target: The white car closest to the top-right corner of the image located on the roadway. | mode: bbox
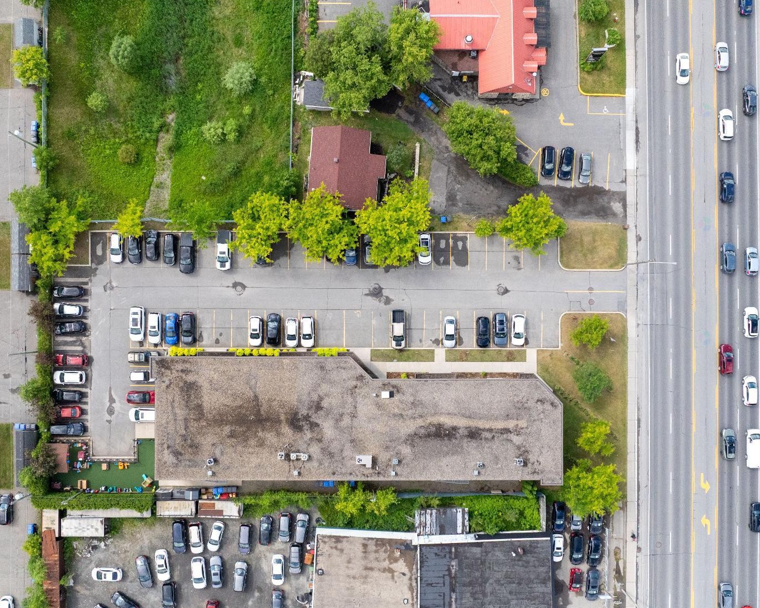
[713,43,730,73]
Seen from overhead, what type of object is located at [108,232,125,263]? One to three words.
car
